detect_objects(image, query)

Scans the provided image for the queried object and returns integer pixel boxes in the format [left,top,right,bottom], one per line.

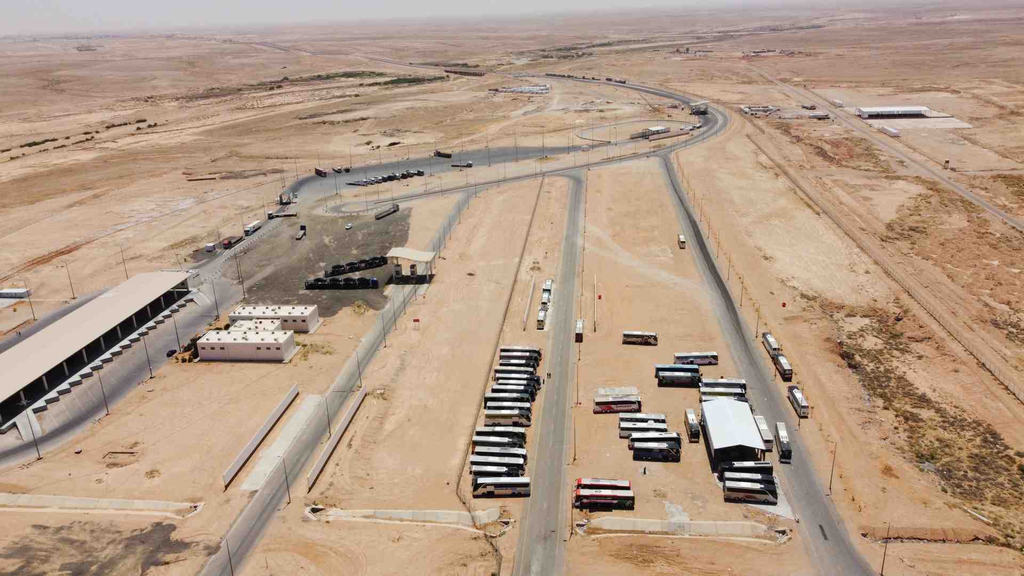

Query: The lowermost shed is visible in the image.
[699,398,769,472]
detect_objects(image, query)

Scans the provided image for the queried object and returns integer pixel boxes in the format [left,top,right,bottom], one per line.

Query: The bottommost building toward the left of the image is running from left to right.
[192,309,323,362]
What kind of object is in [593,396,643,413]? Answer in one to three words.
vehicle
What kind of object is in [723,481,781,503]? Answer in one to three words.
bus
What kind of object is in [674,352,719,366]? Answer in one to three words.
vehicle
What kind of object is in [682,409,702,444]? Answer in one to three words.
bus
